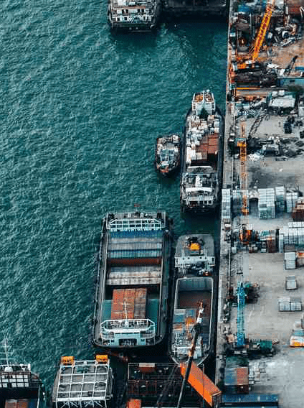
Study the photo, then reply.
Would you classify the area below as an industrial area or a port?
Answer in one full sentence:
It's a port.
